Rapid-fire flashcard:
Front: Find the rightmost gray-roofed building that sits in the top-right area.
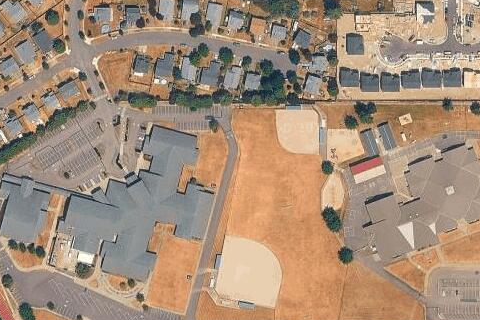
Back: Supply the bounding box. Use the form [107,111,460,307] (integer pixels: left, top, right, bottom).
[443,68,460,88]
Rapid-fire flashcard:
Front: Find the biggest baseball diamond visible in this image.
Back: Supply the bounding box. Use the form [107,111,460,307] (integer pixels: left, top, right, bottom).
[210,236,282,308]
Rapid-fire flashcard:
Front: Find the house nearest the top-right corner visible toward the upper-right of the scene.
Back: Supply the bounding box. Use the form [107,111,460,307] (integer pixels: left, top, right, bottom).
[416,2,434,23]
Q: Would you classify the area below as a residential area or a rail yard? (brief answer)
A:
residential area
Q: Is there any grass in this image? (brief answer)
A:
Yes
